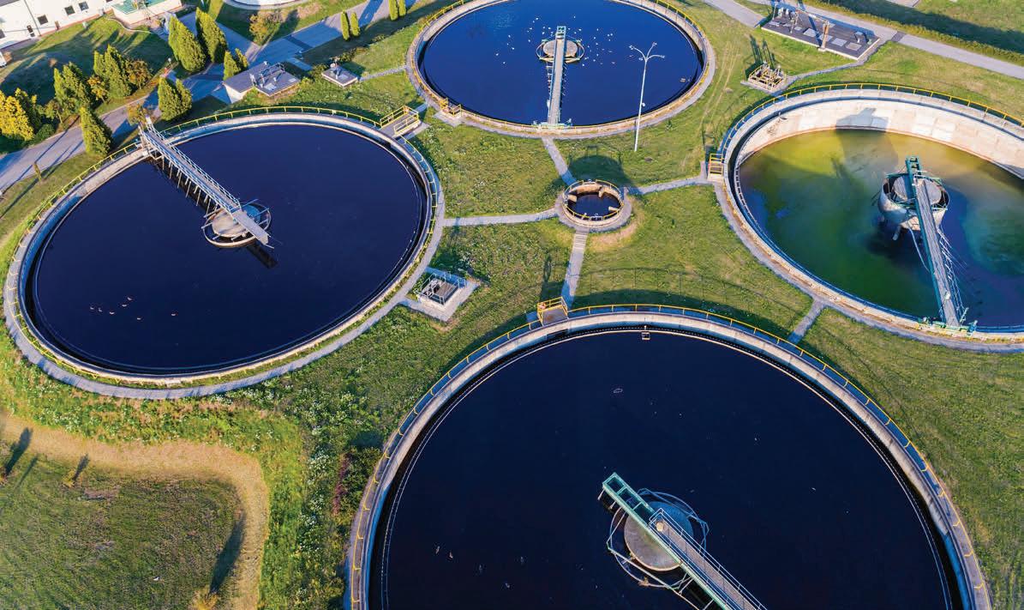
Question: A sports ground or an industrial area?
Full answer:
It's an industrial area.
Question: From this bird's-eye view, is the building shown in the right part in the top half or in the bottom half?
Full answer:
The building shown in the right part is in the top half of the image.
